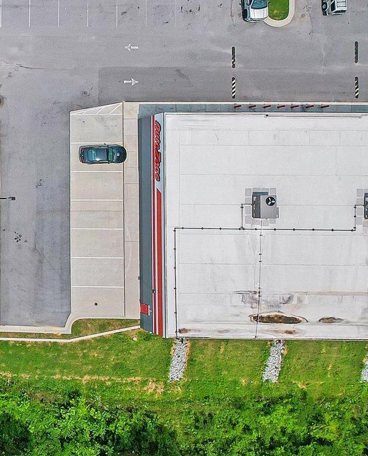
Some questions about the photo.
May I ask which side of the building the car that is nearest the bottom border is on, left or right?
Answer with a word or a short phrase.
to the left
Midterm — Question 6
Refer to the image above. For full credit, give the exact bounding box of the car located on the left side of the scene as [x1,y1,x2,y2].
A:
[79,143,127,165]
